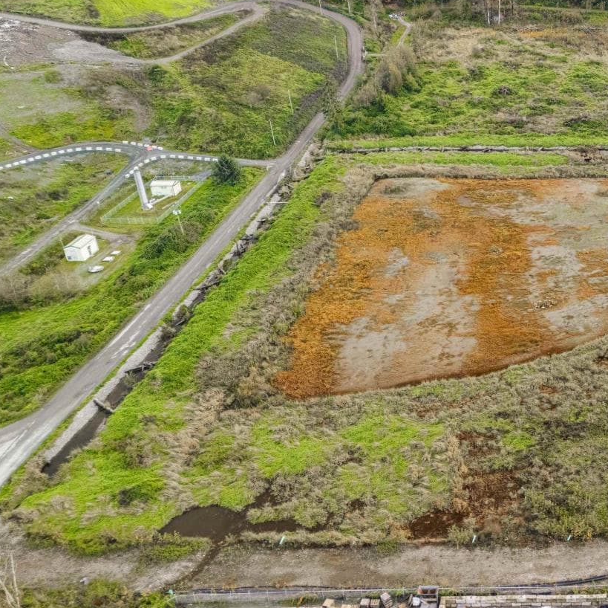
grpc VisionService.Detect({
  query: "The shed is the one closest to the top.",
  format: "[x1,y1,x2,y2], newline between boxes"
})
[149,181,179,197]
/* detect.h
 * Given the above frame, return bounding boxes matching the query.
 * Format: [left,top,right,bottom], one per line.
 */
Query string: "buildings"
[149,181,179,197]
[61,236,93,261]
